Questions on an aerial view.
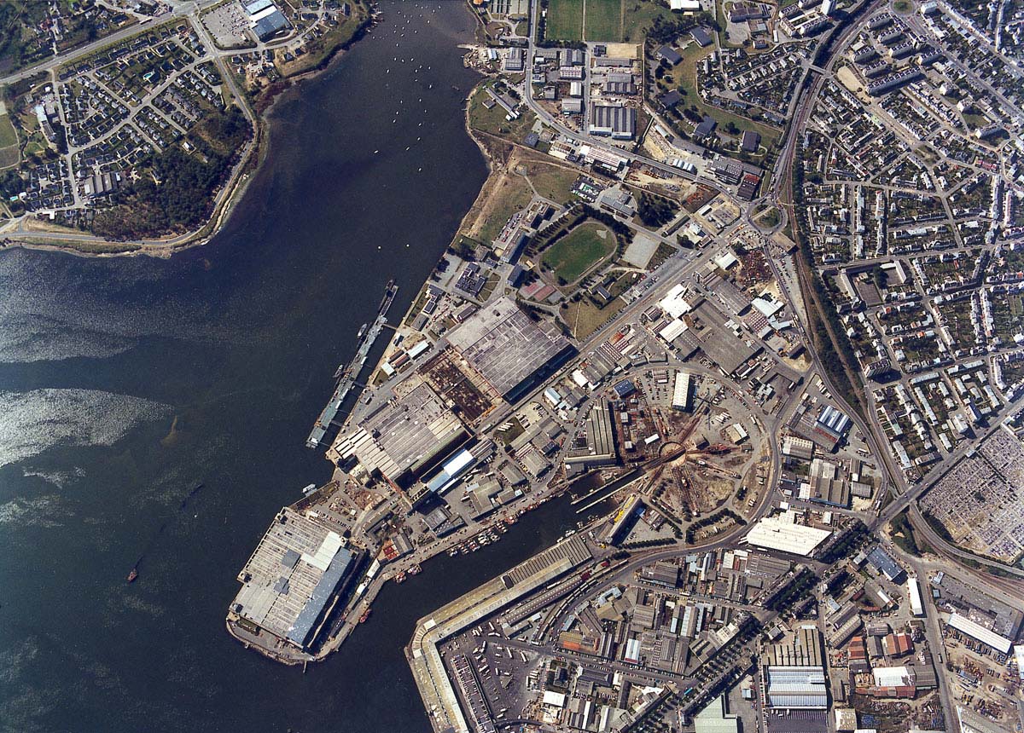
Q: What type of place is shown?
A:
port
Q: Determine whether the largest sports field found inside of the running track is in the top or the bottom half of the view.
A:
top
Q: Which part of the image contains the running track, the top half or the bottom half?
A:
top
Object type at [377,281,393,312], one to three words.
ship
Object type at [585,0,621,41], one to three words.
sports field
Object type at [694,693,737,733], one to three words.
building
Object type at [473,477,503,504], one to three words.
shed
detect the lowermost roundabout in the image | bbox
[745,198,790,236]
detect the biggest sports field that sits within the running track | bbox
[546,225,615,280]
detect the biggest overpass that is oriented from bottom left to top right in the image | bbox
[881,477,931,519]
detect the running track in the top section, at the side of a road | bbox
[542,221,618,284]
